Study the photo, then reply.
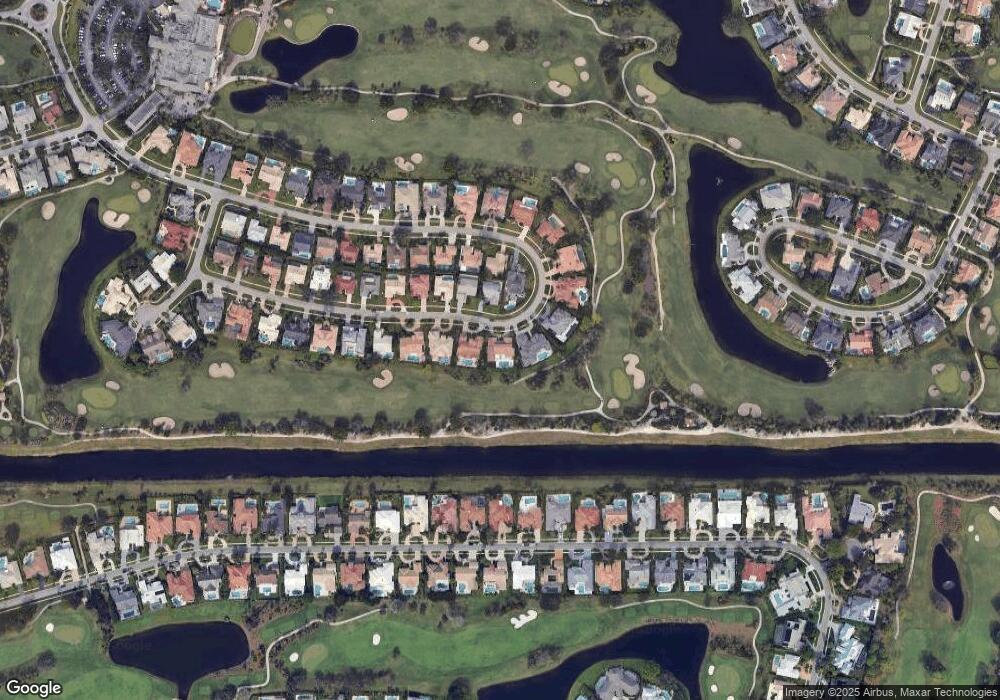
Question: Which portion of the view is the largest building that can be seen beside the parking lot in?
top left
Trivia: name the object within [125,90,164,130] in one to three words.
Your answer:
barn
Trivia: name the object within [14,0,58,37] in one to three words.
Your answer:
roundabout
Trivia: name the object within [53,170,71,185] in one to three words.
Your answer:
swimming pool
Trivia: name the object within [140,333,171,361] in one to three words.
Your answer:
house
